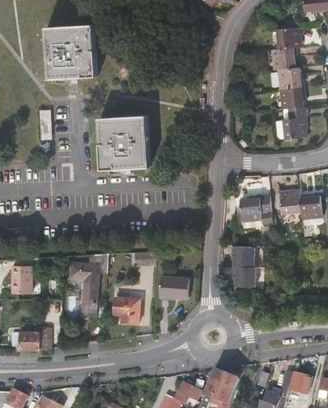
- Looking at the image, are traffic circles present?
Yes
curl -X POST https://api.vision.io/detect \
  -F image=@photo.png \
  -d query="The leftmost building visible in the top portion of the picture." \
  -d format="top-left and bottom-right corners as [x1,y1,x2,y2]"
[39,109,52,140]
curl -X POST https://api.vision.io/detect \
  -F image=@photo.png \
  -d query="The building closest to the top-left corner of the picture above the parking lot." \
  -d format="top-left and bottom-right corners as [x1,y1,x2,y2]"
[41,26,98,82]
